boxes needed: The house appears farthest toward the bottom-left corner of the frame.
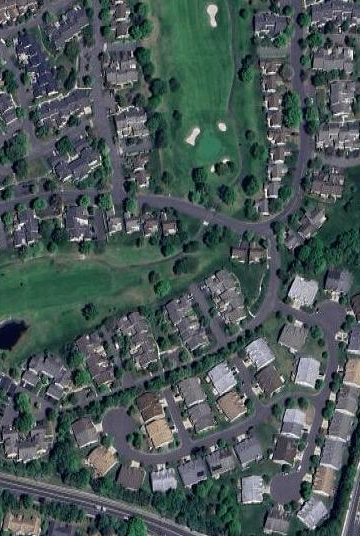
[1,513,41,536]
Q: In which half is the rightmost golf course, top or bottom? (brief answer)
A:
top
